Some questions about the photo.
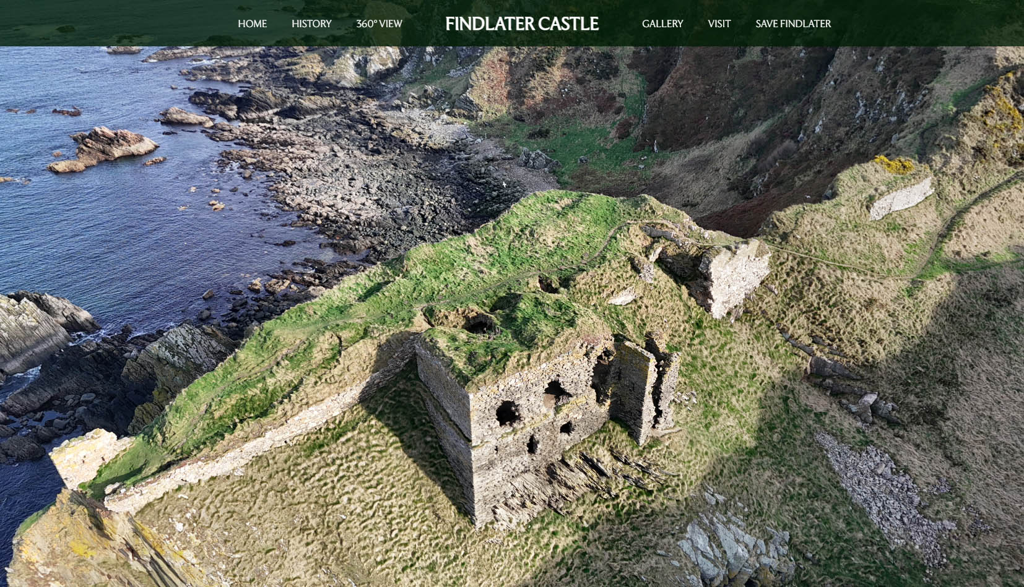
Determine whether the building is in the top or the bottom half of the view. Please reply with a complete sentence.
The building sits in the bottom half of the picture.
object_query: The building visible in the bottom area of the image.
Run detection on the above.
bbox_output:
[414,260,664,538]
